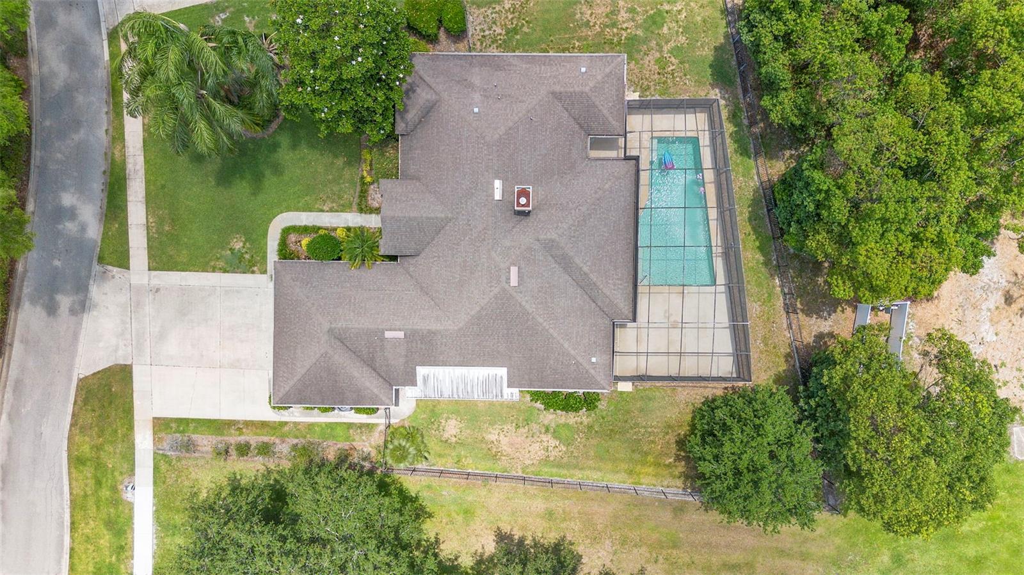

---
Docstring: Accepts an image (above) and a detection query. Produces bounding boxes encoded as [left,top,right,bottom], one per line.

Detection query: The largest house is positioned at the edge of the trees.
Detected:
[272,52,636,408]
